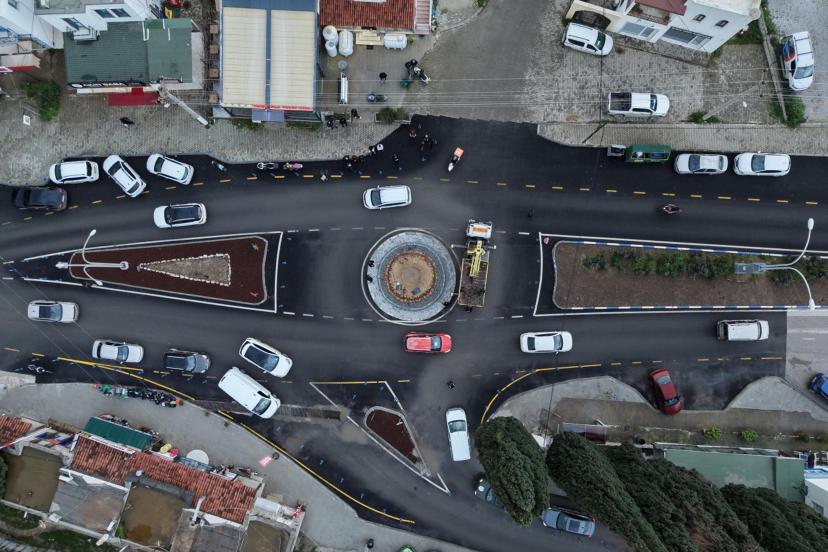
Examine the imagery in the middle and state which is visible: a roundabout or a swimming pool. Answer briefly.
roundabout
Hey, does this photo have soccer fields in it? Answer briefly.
No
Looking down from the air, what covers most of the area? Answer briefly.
paved ground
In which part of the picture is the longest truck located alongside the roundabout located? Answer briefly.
center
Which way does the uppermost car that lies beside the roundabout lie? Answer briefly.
from side to side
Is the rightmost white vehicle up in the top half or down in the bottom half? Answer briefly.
top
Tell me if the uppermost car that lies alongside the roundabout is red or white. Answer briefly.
white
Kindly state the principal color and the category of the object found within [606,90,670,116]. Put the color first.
white vehicle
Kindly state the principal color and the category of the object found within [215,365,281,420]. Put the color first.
white vehicle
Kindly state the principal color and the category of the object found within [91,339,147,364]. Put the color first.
white car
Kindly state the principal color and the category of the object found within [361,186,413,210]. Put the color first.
white car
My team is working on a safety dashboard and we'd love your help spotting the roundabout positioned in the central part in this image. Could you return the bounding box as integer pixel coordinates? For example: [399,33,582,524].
[367,232,456,320]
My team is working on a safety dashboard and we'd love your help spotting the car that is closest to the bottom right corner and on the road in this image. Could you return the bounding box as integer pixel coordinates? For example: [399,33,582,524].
[801,372,828,404]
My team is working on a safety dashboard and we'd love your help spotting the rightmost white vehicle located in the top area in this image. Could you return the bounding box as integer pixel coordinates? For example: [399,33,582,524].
[779,32,817,93]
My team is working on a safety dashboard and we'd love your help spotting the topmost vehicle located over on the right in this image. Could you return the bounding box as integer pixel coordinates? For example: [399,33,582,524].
[560,19,614,56]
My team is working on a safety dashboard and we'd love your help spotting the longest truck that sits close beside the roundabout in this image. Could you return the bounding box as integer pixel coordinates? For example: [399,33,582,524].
[453,215,500,310]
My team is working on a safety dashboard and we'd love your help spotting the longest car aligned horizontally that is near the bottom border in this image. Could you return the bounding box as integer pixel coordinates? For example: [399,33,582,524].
[539,504,598,536]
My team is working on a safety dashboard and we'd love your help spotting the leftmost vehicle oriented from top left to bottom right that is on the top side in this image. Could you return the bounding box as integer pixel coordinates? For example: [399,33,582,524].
[104,152,149,201]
